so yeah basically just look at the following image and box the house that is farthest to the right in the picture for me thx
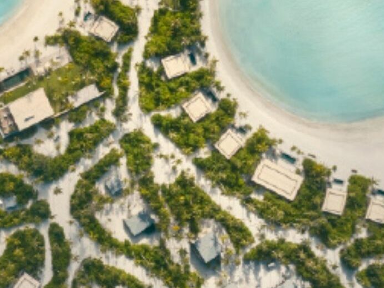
[361,185,384,224]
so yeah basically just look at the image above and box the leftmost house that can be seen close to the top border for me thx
[77,8,117,42]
